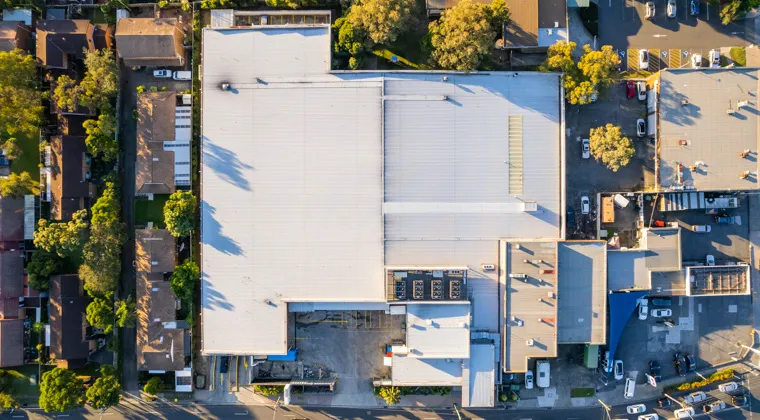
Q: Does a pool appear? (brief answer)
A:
No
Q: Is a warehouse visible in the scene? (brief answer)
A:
Yes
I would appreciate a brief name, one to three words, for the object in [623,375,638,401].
vehicle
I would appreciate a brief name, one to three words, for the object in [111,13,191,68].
house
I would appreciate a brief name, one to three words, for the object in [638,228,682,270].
building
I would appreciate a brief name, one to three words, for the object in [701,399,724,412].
vehicle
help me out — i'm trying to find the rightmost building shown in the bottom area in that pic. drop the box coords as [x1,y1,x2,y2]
[680,262,750,296]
